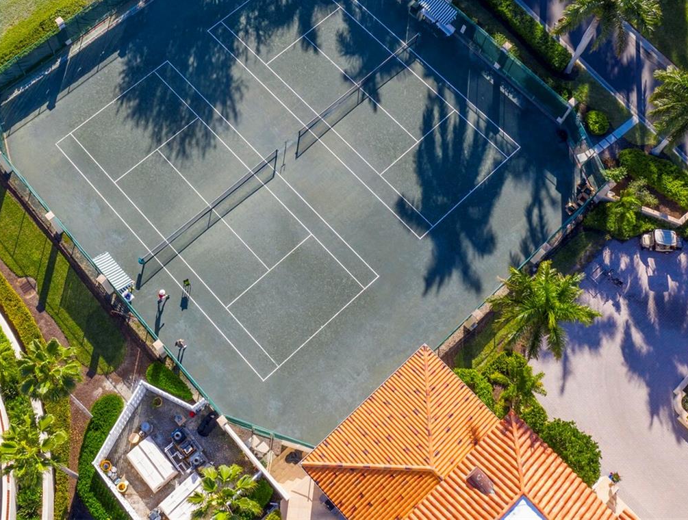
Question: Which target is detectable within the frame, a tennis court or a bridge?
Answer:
tennis court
